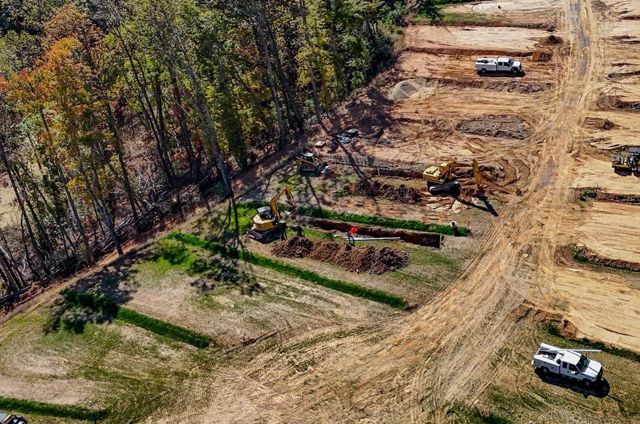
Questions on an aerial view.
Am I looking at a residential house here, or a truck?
truck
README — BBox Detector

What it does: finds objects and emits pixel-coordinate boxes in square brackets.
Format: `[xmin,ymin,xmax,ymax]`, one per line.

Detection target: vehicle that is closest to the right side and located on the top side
[609,138,640,168]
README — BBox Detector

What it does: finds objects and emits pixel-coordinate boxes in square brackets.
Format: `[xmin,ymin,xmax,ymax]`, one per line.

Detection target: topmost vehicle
[474,52,523,70]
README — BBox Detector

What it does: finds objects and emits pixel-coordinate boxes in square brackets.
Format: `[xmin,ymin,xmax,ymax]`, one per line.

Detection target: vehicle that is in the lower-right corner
[530,338,608,385]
